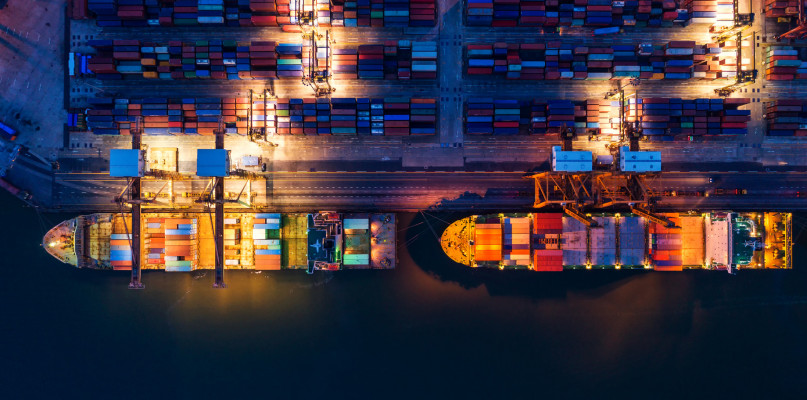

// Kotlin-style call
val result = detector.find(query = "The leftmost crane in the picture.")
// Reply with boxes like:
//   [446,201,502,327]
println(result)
[106,114,210,291]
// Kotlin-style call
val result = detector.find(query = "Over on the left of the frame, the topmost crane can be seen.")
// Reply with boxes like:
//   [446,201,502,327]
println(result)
[297,0,325,42]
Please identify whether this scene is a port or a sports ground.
port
